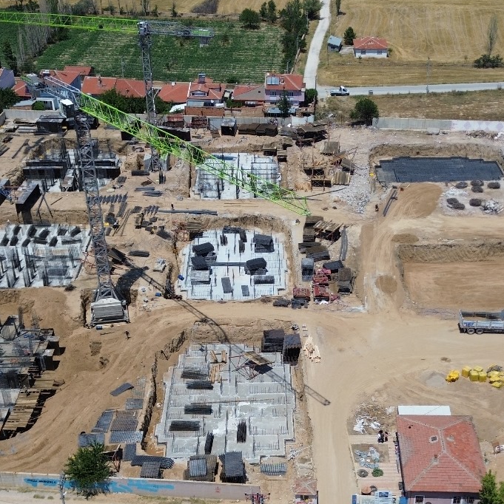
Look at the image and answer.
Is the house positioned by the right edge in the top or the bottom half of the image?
bottom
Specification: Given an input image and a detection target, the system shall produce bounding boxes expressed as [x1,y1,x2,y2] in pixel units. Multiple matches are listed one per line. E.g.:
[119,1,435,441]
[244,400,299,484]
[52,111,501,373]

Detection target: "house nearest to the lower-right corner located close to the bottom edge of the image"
[385,414,488,504]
